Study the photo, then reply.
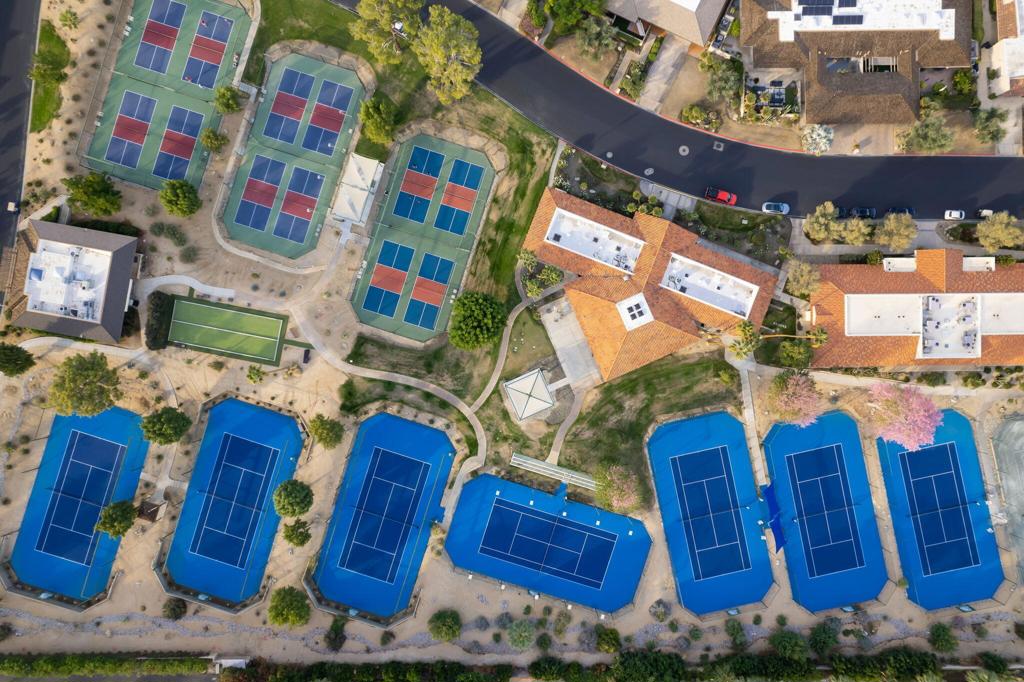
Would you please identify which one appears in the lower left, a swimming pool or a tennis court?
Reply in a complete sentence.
Looking in the lower left, you will find a tennis court.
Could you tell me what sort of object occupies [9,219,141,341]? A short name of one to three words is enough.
house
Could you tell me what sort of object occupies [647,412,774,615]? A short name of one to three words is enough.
tennis court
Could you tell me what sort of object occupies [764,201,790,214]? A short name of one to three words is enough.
vehicle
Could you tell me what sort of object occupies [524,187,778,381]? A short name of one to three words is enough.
building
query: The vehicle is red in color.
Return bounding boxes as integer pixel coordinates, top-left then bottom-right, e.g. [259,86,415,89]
[706,186,737,204]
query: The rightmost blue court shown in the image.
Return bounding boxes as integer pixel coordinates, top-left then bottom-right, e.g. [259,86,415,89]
[876,408,1003,611]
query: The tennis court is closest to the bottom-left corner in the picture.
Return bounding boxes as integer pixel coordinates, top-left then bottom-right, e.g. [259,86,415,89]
[11,400,149,600]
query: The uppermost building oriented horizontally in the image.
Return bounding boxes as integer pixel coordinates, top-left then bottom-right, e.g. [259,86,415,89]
[599,0,730,54]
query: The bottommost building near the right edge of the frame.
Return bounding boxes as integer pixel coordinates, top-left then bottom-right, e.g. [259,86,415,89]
[796,249,1024,367]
